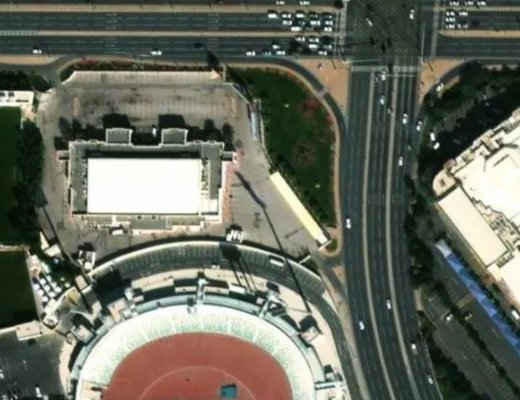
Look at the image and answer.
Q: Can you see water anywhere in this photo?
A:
No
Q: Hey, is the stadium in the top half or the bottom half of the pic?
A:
bottom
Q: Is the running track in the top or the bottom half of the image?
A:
bottom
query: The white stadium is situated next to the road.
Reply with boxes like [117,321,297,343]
[68,276,349,400]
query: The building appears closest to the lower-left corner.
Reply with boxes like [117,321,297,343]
[16,320,41,339]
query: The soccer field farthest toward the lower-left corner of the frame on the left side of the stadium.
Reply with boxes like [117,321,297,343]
[0,251,37,329]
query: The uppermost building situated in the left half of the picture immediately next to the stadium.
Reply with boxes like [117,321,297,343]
[58,127,237,229]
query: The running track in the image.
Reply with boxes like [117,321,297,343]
[103,332,292,400]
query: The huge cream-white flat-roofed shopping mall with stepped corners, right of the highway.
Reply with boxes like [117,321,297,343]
[432,108,520,323]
